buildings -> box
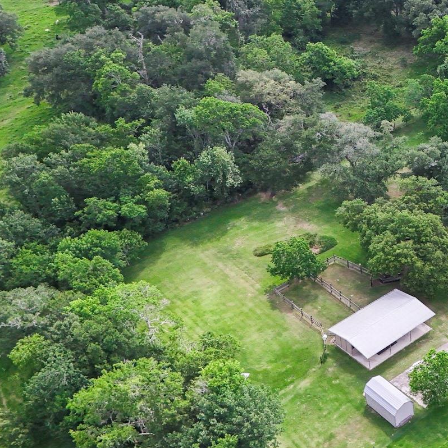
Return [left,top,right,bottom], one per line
[363,377,414,429]
[327,287,436,372]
